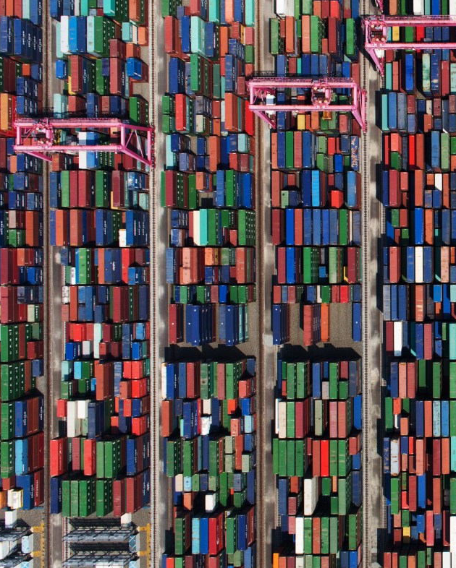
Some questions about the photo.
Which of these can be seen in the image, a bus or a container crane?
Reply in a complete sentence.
I can see a container crane in this picture.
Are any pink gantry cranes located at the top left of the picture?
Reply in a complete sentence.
Yes, a pink gantry crane appears at the top left of the picture.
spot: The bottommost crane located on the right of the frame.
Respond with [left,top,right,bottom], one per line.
[247,73,364,129]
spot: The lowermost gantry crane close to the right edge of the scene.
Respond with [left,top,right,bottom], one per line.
[362,13,456,73]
